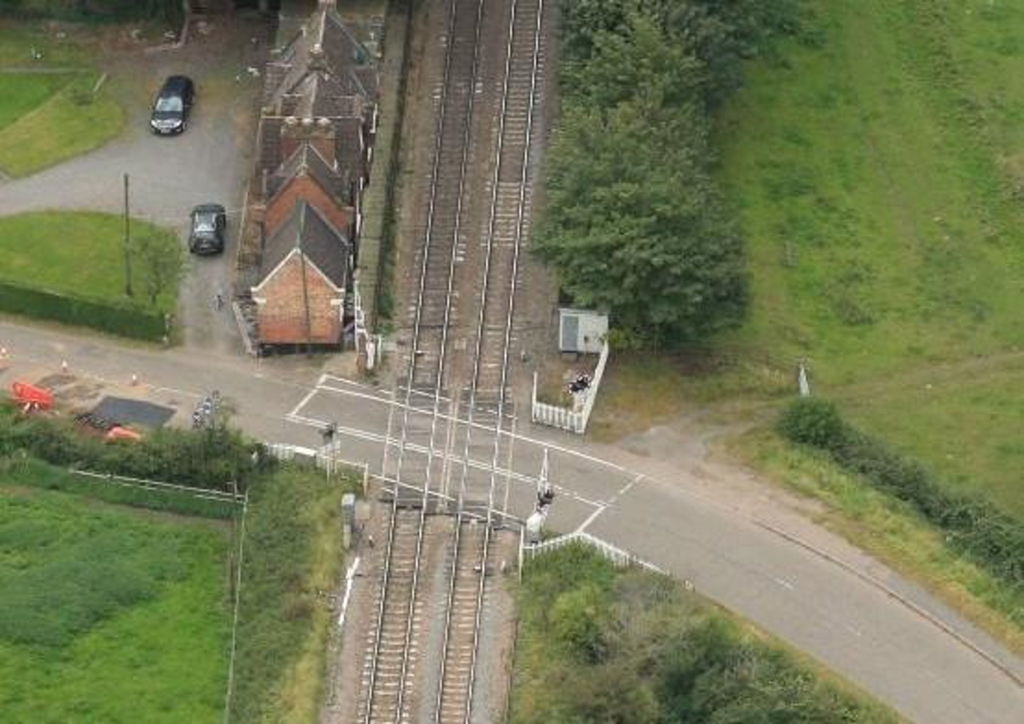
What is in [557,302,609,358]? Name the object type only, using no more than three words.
building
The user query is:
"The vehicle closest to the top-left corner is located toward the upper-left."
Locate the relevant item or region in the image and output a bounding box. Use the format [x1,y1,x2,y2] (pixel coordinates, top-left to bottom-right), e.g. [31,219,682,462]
[153,75,197,132]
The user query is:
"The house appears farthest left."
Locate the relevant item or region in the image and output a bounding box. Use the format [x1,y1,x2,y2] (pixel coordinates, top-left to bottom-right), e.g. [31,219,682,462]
[246,0,391,348]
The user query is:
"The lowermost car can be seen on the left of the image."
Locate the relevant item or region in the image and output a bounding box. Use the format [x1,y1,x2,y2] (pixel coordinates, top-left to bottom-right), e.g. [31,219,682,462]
[189,202,228,250]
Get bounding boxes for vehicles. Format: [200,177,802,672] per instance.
[153,75,197,132]
[189,202,228,250]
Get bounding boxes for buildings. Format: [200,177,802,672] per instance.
[557,302,609,358]
[246,0,391,348]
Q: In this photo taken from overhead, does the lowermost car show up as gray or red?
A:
gray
